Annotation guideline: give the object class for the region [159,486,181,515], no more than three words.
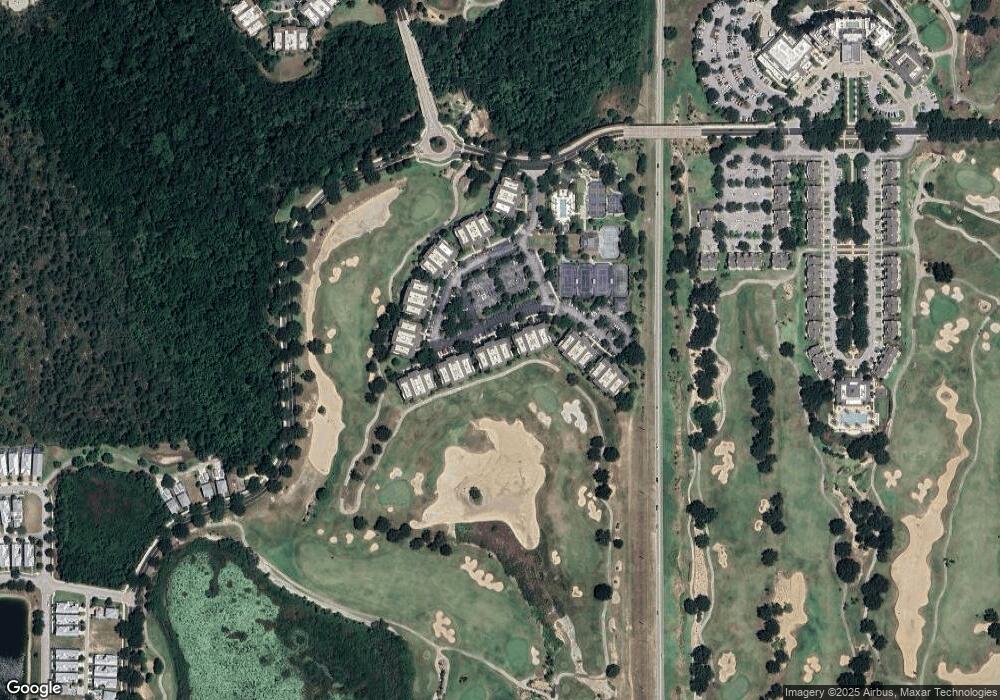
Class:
house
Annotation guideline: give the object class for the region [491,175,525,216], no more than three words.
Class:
building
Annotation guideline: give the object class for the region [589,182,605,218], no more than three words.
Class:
tennis court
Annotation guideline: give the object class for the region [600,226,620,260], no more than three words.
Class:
sports court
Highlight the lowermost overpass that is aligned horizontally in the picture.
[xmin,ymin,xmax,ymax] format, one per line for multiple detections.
[622,125,703,140]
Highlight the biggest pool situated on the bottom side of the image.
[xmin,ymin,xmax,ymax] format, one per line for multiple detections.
[828,405,879,435]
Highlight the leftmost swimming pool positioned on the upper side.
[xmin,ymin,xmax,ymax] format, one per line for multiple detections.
[552,189,575,226]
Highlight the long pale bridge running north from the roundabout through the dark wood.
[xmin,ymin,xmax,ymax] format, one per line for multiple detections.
[398,20,438,122]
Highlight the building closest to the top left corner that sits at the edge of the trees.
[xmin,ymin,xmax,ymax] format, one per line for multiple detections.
[229,0,267,35]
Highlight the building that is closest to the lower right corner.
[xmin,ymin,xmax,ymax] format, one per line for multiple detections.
[834,377,875,425]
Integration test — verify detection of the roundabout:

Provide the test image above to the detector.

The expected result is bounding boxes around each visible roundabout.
[421,128,456,161]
